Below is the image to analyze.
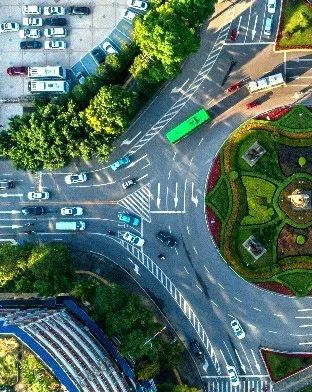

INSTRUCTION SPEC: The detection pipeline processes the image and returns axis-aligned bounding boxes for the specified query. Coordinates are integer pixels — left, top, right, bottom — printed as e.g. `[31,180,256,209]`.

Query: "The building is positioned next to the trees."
[0,292,143,392]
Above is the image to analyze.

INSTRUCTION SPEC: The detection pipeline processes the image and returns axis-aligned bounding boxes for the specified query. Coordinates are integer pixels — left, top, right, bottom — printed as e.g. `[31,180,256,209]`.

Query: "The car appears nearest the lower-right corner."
[225,364,241,388]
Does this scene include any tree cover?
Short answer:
Yes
